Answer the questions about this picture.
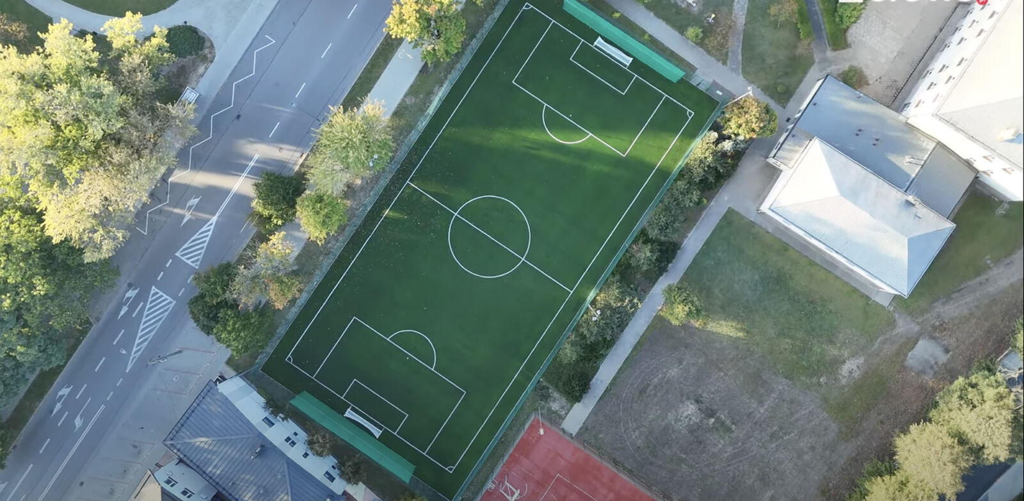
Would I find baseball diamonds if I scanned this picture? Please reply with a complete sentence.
No, there isn't any baseball diamond down there.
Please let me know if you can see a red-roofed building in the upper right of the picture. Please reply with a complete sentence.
No, I can find no red-roofed building in the upper right of the picture.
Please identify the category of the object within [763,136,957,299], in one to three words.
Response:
building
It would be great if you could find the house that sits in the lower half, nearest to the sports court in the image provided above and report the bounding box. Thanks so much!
[162,371,361,501]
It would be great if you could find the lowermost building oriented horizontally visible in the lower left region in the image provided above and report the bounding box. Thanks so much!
[124,456,224,501]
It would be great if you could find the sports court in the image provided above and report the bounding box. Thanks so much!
[471,406,668,501]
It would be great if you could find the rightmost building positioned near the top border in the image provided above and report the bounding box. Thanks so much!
[907,0,1024,198]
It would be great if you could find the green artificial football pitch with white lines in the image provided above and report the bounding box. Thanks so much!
[261,0,719,499]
